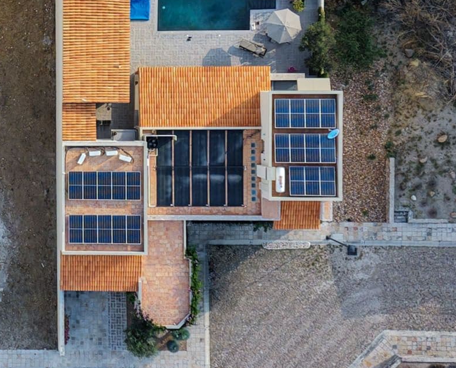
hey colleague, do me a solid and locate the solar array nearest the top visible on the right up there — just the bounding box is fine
[274,99,335,128]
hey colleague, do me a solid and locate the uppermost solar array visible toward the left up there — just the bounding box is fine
[69,172,141,199]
